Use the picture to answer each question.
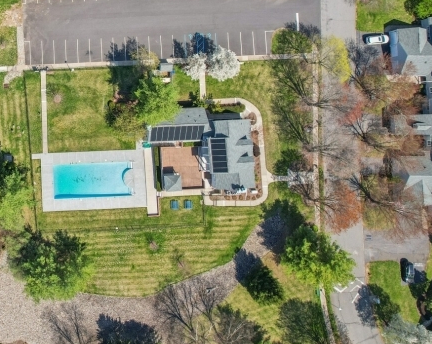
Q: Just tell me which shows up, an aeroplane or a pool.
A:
pool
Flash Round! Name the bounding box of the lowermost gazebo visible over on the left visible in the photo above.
[163,175,182,191]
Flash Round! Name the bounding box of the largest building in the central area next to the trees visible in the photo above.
[148,108,255,190]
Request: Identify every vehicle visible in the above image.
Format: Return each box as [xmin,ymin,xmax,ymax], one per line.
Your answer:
[402,261,416,283]
[362,34,385,45]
